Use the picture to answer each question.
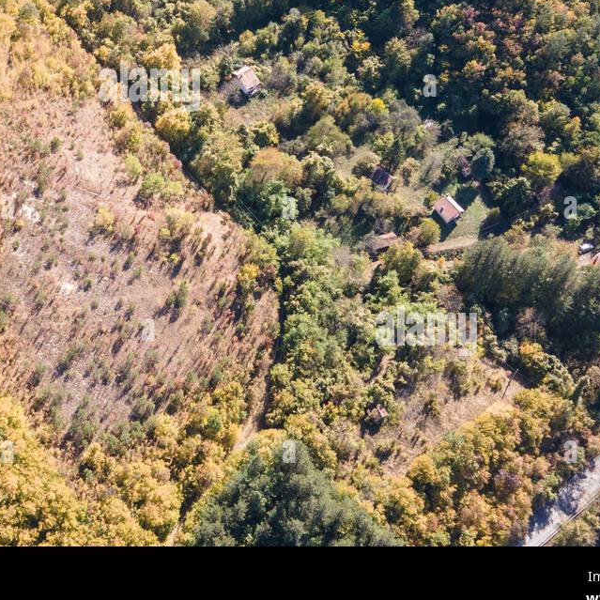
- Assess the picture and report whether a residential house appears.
Yes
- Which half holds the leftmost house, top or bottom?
top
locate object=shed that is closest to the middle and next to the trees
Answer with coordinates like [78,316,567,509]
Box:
[365,234,396,259]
